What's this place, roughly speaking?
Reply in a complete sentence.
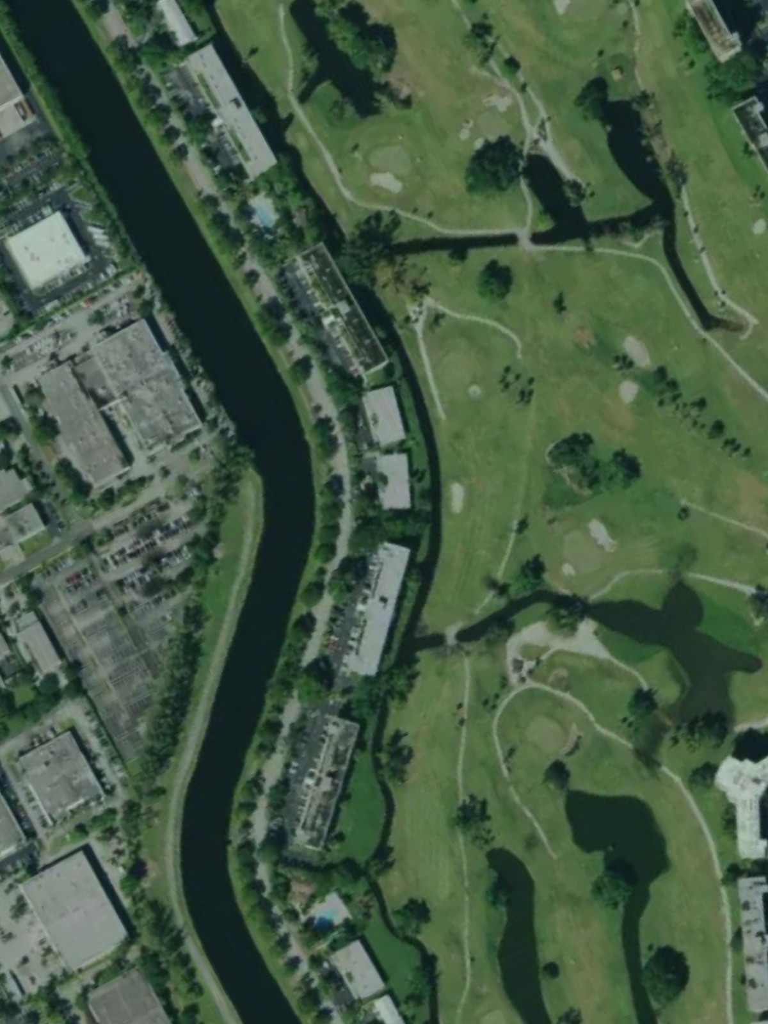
The picture captures a golf course.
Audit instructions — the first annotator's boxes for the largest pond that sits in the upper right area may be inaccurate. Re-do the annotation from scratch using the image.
[525,98,743,332]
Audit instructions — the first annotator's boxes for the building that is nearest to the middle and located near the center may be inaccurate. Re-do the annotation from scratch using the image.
[376,453,411,510]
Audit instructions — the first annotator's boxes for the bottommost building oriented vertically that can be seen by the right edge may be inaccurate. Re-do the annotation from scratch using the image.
[736,875,768,1013]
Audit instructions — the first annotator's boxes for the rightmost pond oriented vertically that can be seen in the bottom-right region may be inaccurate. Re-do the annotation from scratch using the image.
[565,790,671,1024]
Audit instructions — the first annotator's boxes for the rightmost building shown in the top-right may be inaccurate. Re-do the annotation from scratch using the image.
[729,98,768,184]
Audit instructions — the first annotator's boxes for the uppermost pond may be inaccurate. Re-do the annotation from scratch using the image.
[293,0,380,117]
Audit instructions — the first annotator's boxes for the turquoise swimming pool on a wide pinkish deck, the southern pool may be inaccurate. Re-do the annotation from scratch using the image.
[307,892,352,931]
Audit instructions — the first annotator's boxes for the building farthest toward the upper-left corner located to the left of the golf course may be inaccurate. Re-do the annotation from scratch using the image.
[0,56,35,141]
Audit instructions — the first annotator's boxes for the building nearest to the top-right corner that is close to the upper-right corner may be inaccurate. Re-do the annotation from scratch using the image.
[681,0,741,67]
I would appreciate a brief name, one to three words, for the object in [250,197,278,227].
swimming pool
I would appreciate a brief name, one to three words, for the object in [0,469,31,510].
building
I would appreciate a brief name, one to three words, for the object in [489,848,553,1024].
pond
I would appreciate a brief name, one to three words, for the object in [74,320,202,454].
building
